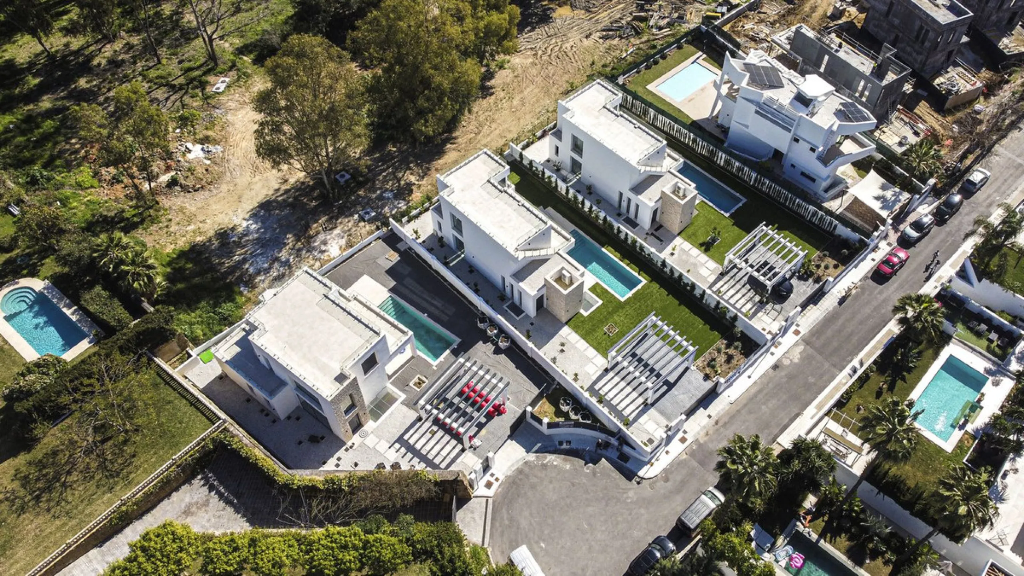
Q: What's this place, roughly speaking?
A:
residential area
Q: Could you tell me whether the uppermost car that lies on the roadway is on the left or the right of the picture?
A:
right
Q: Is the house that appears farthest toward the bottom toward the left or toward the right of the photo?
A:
left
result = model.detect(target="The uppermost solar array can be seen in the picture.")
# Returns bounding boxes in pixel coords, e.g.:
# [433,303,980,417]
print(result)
[742,63,784,89]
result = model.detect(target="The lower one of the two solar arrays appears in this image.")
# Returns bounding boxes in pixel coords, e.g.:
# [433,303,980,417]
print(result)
[839,102,871,129]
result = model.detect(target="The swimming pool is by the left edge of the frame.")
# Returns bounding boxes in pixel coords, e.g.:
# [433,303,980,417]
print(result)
[0,285,90,358]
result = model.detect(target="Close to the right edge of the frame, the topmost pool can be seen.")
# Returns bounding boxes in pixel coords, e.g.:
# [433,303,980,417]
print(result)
[911,349,993,447]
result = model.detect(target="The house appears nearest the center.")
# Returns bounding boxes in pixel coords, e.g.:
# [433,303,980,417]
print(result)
[434,146,604,322]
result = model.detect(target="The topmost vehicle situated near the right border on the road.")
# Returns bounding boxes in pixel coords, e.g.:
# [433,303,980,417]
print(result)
[957,167,994,196]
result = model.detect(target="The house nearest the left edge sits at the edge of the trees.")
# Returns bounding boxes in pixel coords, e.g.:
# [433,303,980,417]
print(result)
[213,264,416,442]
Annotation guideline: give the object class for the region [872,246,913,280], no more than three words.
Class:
car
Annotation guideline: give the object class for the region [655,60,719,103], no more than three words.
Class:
swimming pool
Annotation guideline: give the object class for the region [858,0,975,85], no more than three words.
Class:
house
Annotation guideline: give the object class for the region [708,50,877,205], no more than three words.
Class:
house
